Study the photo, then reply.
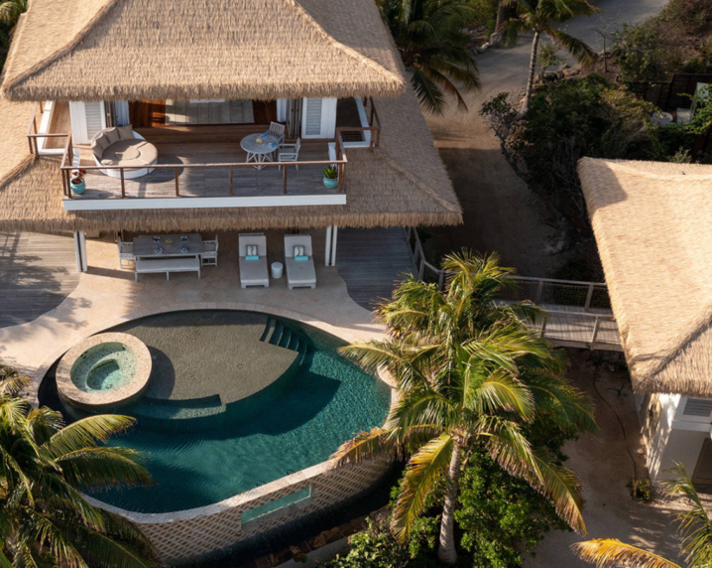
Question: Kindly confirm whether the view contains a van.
No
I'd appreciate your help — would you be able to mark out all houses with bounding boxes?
[0,0,462,272]
[566,167,712,488]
